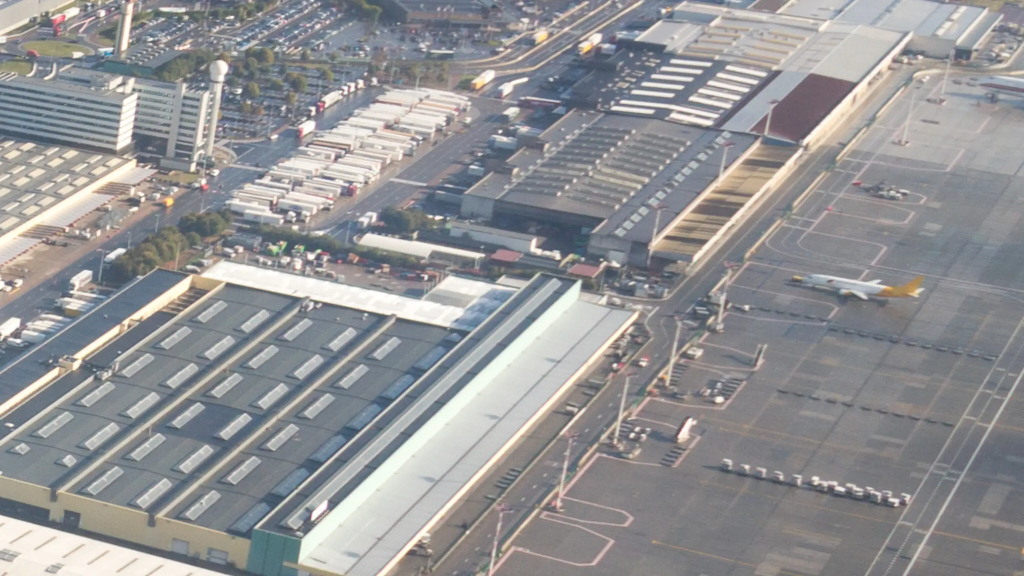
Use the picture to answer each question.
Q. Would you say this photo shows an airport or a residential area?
airport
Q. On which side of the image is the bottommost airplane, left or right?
right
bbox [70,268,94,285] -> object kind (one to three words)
vehicle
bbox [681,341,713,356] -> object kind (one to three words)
work vehicle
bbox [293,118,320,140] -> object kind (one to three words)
truck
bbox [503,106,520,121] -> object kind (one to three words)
vehicle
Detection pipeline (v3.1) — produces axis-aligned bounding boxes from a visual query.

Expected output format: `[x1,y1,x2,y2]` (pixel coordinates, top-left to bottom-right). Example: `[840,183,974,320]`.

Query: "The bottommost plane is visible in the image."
[802,272,930,307]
